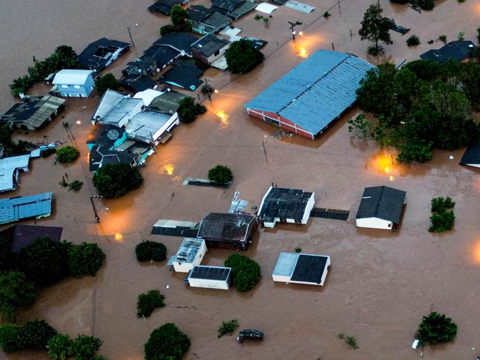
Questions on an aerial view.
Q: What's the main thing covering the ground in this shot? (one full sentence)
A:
What you mostly see from above here is water.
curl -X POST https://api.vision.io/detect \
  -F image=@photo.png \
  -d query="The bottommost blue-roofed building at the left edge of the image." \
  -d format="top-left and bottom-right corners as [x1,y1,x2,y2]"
[0,192,53,226]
